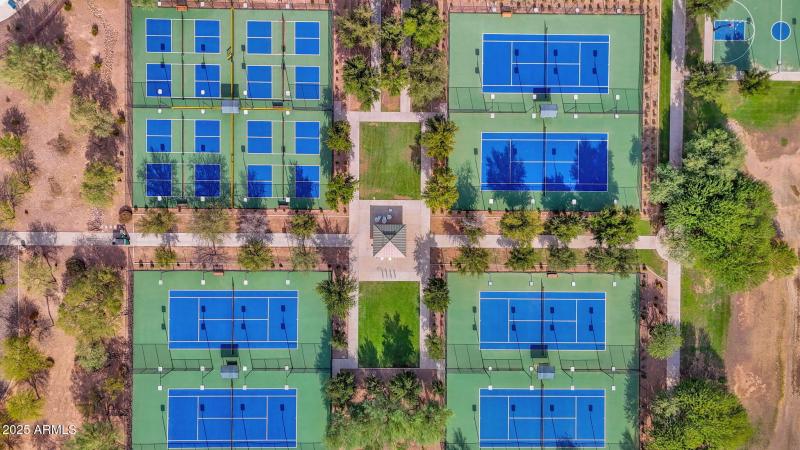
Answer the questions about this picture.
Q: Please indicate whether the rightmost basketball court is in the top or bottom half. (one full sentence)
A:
Seen from above, the rightmost basketball court lies in the top half of the view.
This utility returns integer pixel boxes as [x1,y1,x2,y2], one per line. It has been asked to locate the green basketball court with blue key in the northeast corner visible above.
[713,0,800,72]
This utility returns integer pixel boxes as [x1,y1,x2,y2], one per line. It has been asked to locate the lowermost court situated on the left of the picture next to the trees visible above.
[133,369,330,450]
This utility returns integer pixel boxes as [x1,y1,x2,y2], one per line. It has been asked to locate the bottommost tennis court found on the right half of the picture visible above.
[446,369,638,450]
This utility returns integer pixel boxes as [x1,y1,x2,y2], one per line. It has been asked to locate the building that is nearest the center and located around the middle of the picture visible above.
[373,224,406,257]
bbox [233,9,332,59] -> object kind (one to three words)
sports court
